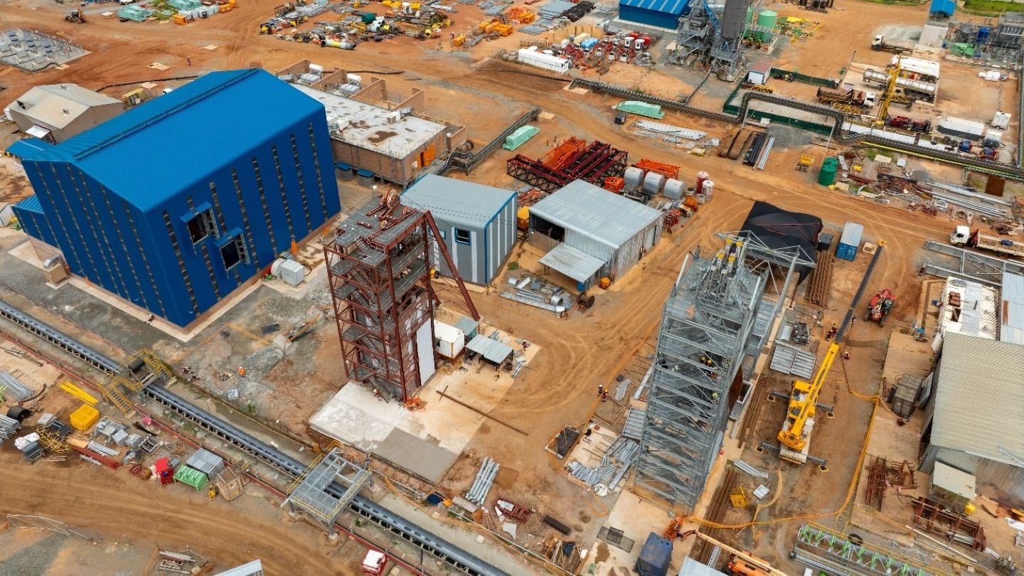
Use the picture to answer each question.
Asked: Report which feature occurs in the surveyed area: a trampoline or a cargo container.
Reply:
cargo container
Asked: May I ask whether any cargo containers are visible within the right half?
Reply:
Yes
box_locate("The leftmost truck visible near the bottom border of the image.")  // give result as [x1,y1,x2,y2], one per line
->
[353,541,390,576]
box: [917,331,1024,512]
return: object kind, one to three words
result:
shed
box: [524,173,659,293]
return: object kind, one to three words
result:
building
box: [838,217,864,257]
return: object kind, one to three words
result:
shipping container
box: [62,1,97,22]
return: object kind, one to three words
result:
work vehicle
